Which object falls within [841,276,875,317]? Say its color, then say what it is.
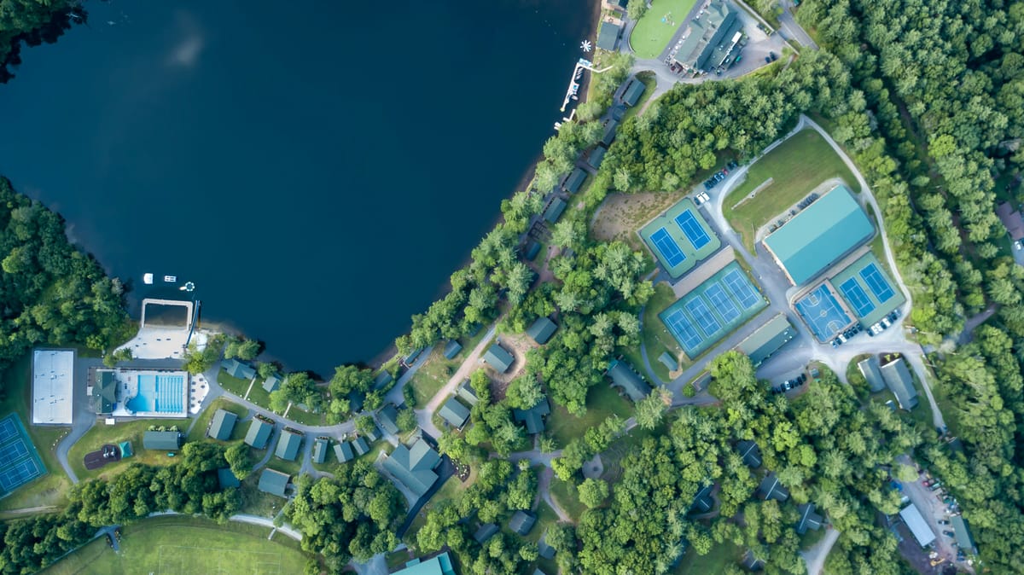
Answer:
blue tennis court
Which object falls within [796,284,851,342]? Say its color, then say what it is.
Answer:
blue basketball court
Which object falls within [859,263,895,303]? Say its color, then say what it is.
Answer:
blue tennis court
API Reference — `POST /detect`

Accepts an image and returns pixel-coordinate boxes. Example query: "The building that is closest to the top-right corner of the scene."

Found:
[994,201,1024,241]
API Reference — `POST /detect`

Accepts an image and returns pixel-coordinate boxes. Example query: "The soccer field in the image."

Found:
[48,522,307,575]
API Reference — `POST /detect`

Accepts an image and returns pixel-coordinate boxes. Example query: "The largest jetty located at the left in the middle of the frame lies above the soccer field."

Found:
[141,299,193,329]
